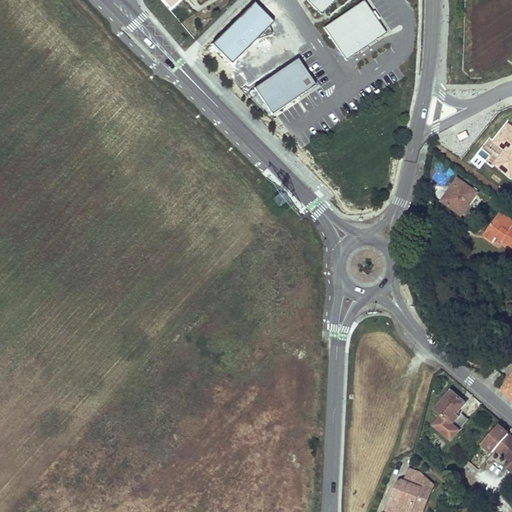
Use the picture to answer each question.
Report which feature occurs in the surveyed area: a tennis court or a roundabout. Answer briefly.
roundabout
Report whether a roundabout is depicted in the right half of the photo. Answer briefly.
Yes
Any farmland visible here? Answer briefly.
Yes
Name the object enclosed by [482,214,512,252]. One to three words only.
house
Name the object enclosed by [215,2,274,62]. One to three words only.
building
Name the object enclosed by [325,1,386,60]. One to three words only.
building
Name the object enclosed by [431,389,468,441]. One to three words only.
house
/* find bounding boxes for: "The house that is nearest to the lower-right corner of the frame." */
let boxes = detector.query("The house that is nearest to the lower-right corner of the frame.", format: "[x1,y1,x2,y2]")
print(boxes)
[480,424,512,473]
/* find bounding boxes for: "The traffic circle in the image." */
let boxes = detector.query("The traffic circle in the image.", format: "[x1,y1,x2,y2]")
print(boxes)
[338,238,396,296]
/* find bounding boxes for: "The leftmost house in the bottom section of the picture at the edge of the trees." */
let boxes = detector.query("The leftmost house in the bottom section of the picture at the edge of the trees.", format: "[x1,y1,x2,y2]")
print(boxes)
[384,468,434,512]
